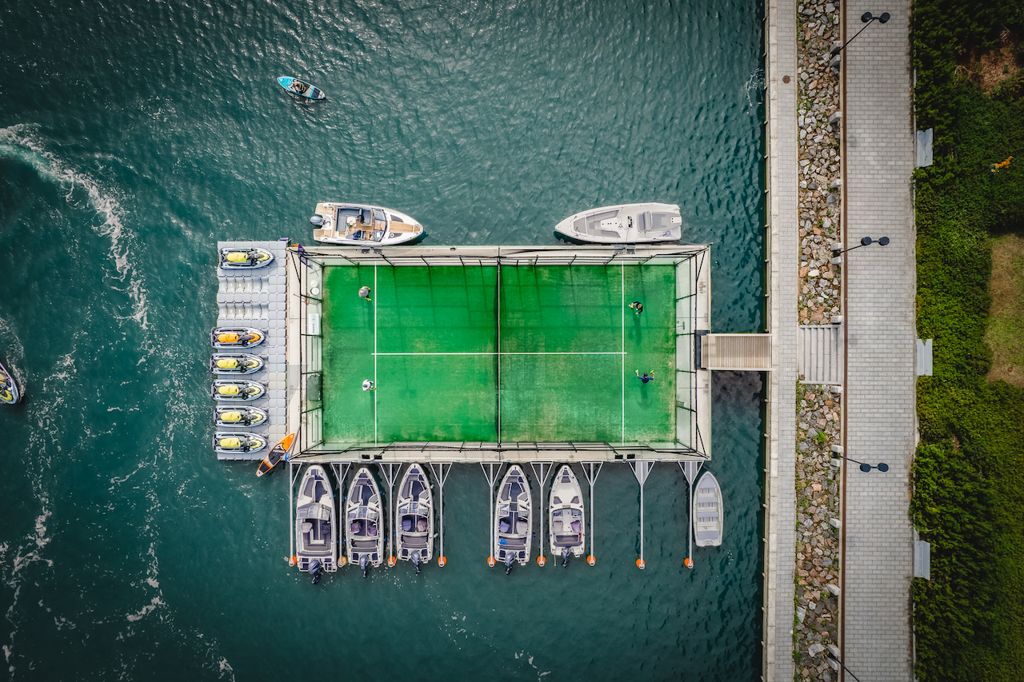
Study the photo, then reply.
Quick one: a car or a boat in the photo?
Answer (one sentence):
Visible in the photo is a boat.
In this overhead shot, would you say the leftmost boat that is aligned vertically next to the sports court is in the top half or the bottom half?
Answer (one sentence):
The leftmost boat that is aligned vertically next to the sports court sits in the bottom half of the picture.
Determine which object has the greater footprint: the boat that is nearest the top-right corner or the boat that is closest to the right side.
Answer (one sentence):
Of the two, the boat that is nearest the top-right corner is bigger, while the boat that is closest to the right side is smaller.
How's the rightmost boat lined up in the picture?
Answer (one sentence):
Seen from above, the rightmost boat lies up and down.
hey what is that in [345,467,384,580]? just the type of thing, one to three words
boat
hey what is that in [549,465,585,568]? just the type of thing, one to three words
boat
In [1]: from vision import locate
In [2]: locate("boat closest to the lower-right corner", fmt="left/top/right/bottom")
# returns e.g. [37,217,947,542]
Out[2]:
[692,471,723,547]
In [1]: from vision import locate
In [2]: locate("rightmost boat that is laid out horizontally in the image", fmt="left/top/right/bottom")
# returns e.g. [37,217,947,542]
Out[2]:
[554,202,681,244]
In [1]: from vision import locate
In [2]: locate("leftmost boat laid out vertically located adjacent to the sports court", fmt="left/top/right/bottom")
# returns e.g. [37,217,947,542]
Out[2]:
[296,464,338,585]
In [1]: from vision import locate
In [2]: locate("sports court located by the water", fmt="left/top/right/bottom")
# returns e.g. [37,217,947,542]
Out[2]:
[288,249,708,459]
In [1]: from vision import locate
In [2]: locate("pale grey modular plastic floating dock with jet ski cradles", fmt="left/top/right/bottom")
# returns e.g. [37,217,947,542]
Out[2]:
[218,241,290,459]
